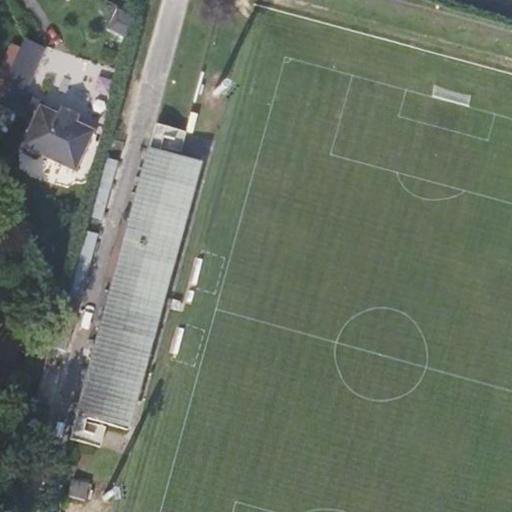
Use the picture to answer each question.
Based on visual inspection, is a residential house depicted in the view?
Yes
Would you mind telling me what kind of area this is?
sports ground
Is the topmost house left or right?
left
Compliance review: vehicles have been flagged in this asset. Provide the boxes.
[46,26,61,47]
[55,422,64,438]
[80,304,94,332]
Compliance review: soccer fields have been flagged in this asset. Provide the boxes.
[134,10,512,512]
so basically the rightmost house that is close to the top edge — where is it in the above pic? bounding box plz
[101,4,133,42]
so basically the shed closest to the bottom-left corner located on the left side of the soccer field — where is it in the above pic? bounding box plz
[68,480,90,502]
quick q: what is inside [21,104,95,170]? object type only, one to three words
house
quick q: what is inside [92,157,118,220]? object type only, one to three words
shed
